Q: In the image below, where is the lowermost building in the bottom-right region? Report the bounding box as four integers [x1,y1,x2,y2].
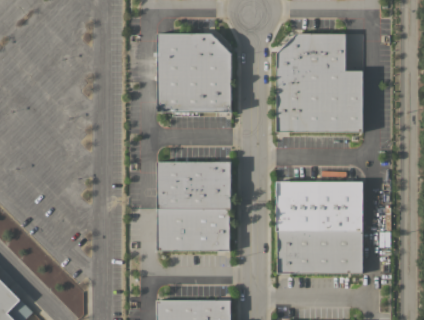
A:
[278,232,364,274]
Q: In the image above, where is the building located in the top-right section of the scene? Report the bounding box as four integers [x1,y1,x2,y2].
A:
[278,34,364,133]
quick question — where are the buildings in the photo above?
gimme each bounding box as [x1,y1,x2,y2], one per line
[0,279,33,320]
[278,34,364,133]
[157,300,232,320]
[158,210,230,251]
[276,182,364,231]
[278,232,364,274]
[158,34,232,112]
[158,162,232,209]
